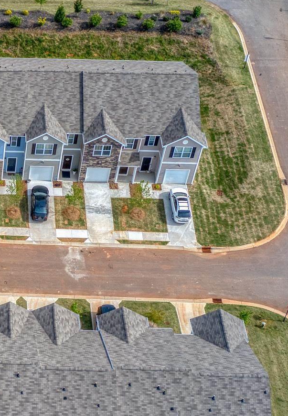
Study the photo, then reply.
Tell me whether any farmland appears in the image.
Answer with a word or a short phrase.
No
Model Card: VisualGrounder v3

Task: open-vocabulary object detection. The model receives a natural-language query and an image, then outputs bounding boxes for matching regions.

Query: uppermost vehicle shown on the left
[31,184,51,221]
